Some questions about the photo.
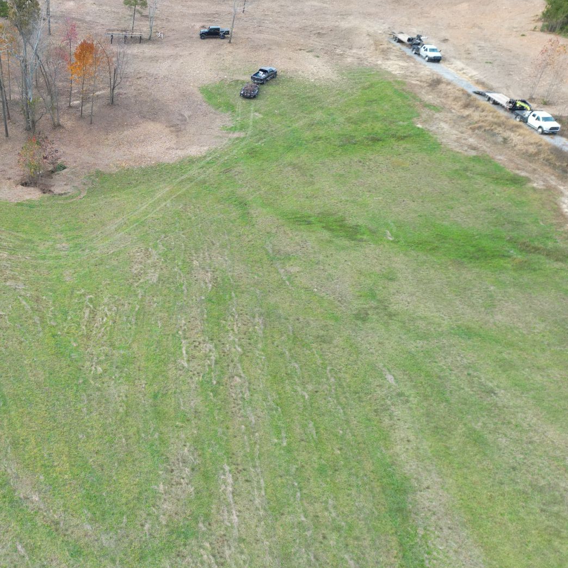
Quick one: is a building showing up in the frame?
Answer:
No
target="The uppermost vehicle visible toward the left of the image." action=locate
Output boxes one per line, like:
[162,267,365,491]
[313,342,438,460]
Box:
[199,23,231,38]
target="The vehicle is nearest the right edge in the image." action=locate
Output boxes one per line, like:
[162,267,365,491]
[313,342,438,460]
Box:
[512,109,558,133]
